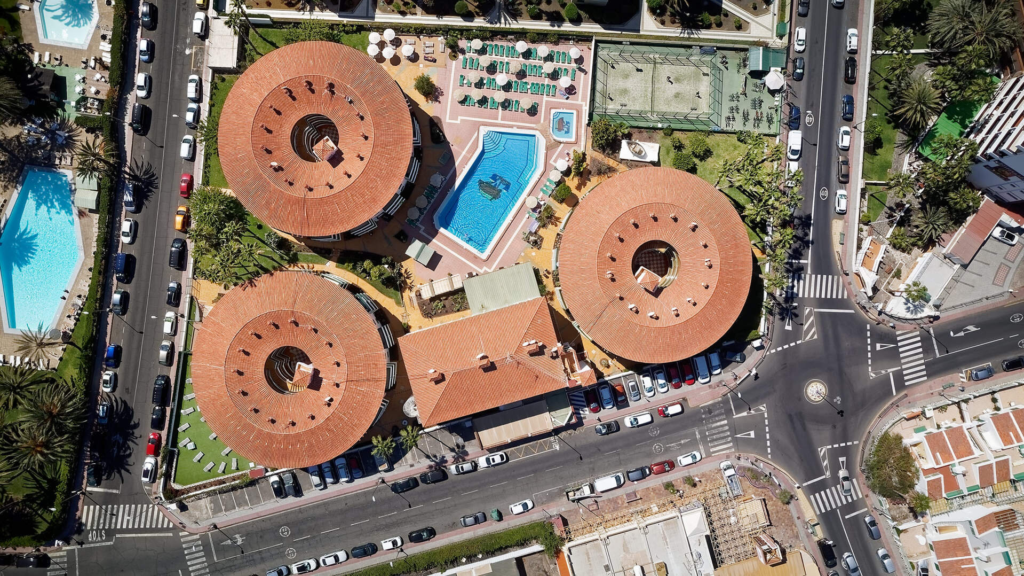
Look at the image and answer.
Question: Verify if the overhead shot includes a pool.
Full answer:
Yes, a pool appears in the view.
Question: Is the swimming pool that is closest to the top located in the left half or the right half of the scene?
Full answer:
It is on the left.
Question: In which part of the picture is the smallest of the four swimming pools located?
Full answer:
The smallest of the four swimming pools is located in the top region of the scene.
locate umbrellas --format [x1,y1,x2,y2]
[369,32,381,44]
[479,56,490,68]
[495,74,508,87]
[559,77,571,89]
[430,175,442,186]
[526,196,538,208]
[471,39,482,50]
[416,197,427,208]
[543,62,555,74]
[454,89,465,101]
[537,46,549,58]
[510,62,522,74]
[494,91,506,103]
[383,29,395,41]
[556,159,568,171]
[401,45,413,57]
[468,72,480,84]
[367,45,379,57]
[382,48,394,59]
[568,48,580,60]
[515,42,527,53]
[550,171,561,182]
[763,70,785,91]
[408,207,420,219]
[570,147,581,158]
[471,89,483,102]
[520,98,532,110]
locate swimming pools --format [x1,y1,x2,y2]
[550,109,577,142]
[36,0,99,50]
[433,126,546,259]
[0,165,83,334]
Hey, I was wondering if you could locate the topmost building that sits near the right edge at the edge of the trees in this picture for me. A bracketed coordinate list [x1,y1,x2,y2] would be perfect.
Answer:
[947,80,1024,198]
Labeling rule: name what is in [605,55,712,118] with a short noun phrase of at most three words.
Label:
sports court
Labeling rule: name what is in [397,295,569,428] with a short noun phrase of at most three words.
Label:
building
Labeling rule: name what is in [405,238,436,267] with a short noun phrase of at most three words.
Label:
gazebo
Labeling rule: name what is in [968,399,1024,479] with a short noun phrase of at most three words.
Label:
house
